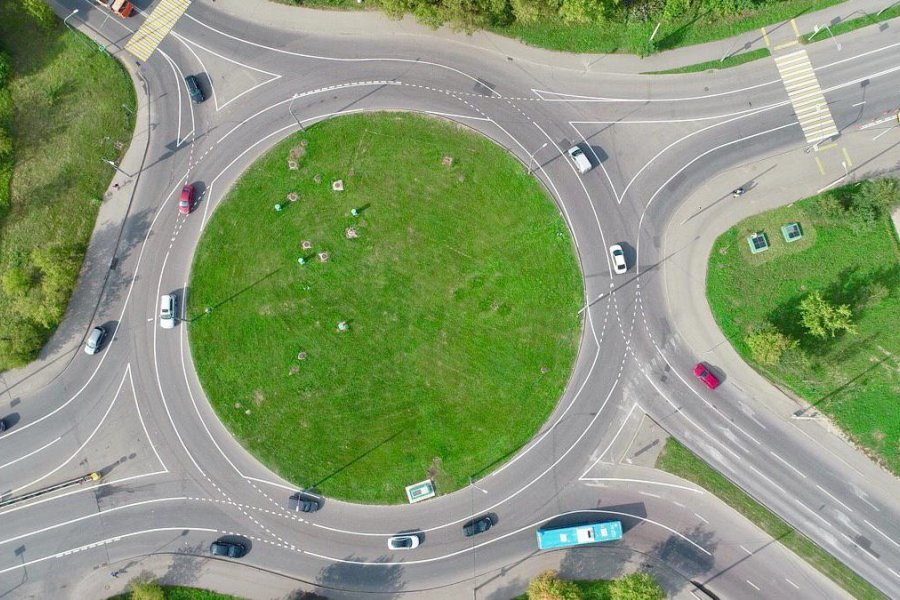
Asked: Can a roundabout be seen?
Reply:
Yes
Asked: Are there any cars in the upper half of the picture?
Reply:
Yes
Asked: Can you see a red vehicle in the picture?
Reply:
Yes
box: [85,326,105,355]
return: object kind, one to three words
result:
car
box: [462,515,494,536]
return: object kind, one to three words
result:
car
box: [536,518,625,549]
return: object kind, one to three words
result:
bus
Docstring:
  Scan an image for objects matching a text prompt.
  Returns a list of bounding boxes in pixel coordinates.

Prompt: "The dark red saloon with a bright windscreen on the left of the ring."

[178,185,195,214]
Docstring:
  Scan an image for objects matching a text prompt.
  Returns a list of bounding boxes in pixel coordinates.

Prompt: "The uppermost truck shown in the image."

[96,0,135,21]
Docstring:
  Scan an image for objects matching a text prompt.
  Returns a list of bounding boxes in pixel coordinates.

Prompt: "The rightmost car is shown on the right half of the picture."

[693,364,720,390]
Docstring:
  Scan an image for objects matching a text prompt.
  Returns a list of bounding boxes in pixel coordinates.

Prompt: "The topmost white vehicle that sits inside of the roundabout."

[570,146,592,174]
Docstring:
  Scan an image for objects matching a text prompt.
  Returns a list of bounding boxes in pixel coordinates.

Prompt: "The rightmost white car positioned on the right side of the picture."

[609,245,627,276]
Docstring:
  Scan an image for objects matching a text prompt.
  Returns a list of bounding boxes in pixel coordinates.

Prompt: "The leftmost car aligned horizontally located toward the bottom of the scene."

[212,542,245,559]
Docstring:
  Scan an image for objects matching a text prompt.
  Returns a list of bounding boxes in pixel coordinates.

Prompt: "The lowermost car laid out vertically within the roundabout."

[160,295,175,328]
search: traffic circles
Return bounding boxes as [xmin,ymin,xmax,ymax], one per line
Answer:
[120,48,711,579]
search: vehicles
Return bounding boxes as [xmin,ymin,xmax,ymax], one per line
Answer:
[85,326,105,355]
[96,0,135,21]
[212,542,245,559]
[570,146,592,174]
[288,496,319,513]
[388,535,419,550]
[185,76,204,105]
[693,364,720,390]
[609,245,627,276]
[178,185,195,214]
[160,295,175,328]
[536,518,625,549]
[462,515,494,536]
